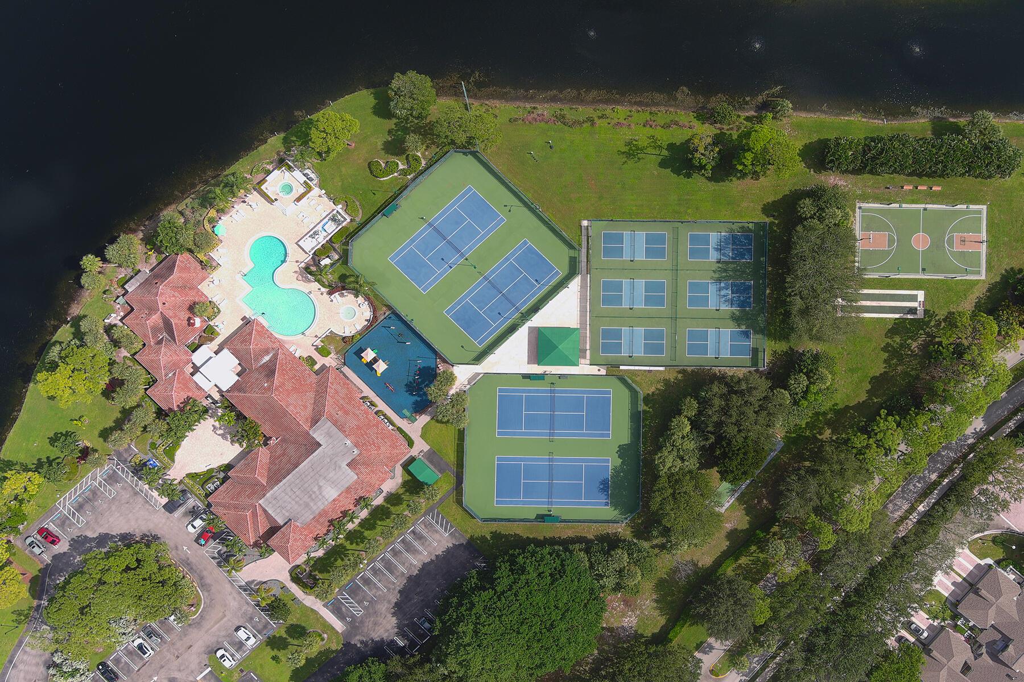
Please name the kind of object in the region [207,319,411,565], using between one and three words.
building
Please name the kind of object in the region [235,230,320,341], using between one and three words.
swimming pool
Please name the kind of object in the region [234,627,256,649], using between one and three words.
car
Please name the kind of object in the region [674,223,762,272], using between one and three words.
sports court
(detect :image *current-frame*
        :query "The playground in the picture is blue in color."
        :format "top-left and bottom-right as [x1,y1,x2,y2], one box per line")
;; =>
[345,312,436,419]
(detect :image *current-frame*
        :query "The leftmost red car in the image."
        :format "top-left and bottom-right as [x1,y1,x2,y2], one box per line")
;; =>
[35,528,59,548]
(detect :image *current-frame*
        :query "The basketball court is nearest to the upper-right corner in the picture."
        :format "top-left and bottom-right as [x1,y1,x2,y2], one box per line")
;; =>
[854,203,987,279]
